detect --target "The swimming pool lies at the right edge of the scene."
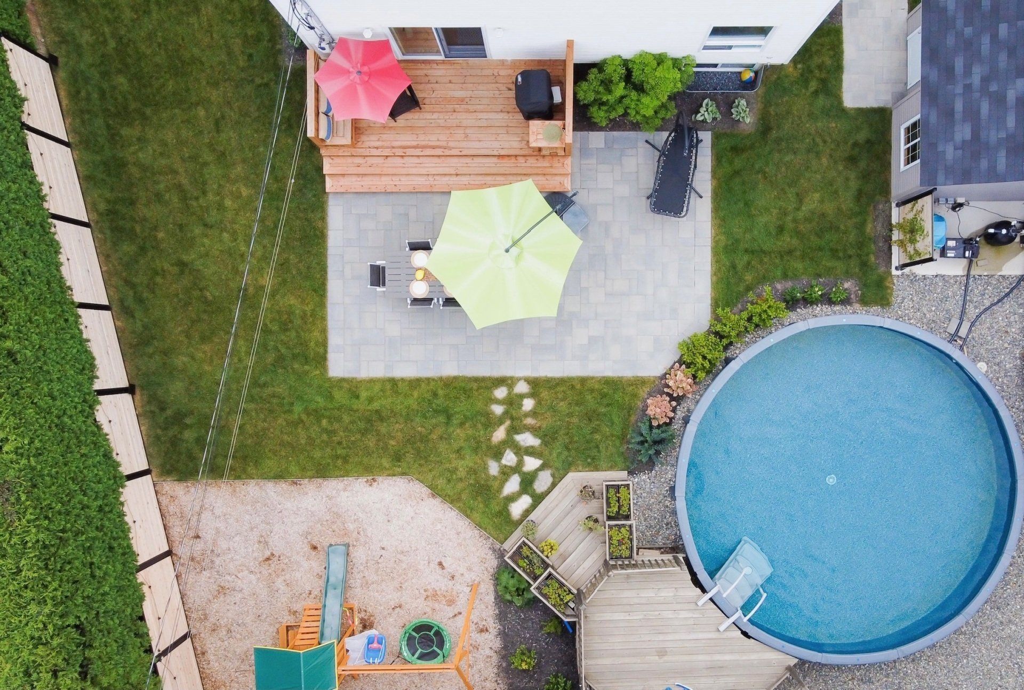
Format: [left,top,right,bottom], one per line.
[668,314,1024,665]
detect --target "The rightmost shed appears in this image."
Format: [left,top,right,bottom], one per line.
[893,0,1024,201]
